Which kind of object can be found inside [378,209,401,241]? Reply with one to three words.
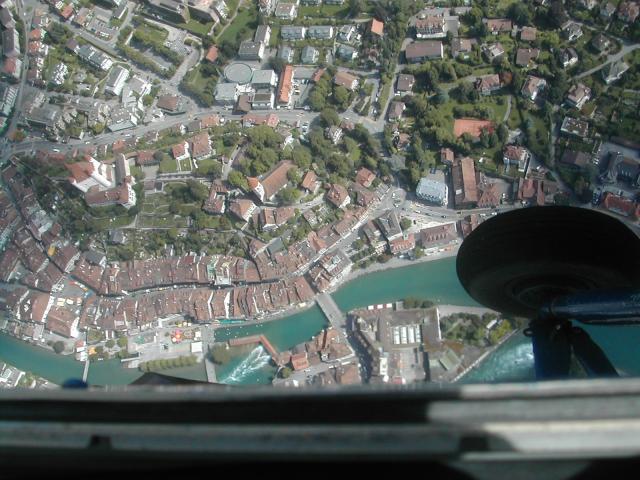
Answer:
building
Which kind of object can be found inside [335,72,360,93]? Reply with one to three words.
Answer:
house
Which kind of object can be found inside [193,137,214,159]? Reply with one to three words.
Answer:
house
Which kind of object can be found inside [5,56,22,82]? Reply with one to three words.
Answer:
building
